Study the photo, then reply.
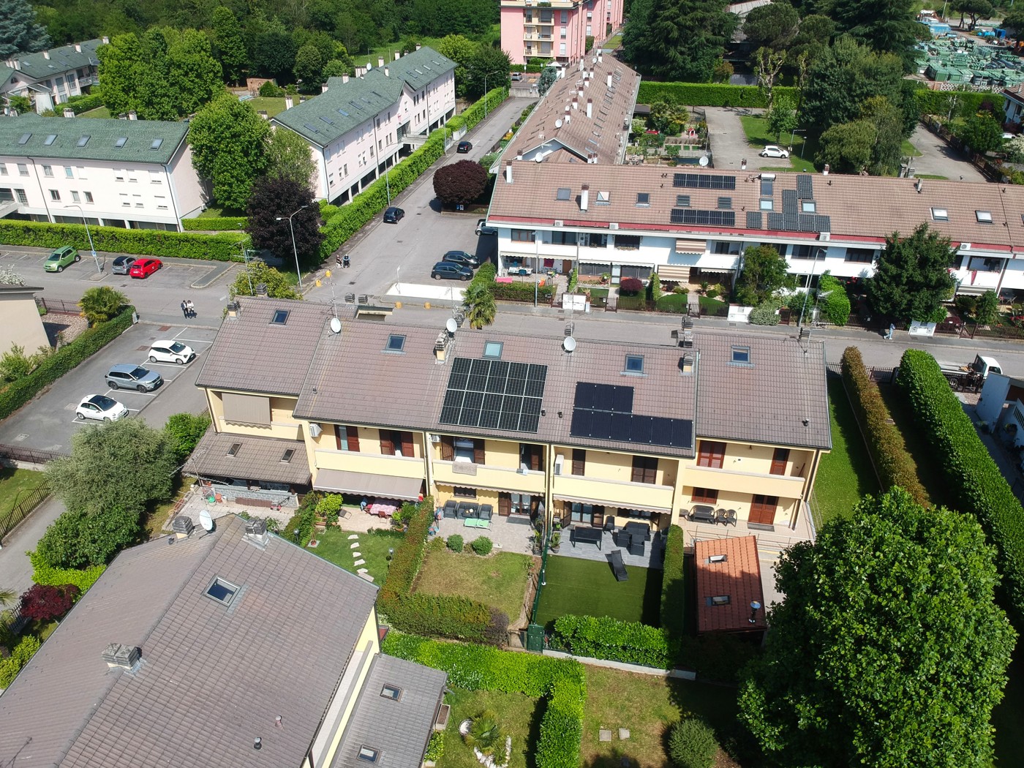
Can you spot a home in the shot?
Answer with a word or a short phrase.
Yes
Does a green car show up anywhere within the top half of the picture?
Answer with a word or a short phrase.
Yes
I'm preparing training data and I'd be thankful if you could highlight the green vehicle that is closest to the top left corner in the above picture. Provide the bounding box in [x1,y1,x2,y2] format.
[37,244,82,271]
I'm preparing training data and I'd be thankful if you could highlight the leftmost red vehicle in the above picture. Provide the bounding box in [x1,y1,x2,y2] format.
[126,254,168,276]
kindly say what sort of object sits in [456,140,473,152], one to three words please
vehicle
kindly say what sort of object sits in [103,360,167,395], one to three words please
car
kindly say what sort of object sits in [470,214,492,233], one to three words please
car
